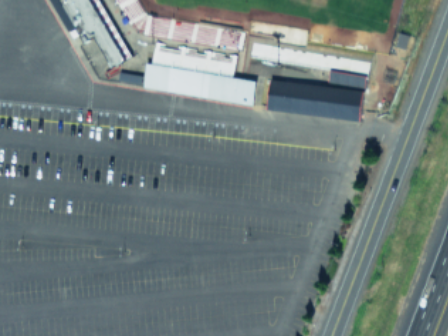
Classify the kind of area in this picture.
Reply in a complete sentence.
It's a parking lot.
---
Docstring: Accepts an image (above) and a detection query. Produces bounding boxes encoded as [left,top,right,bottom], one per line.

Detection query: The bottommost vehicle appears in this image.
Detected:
[419,273,438,308]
